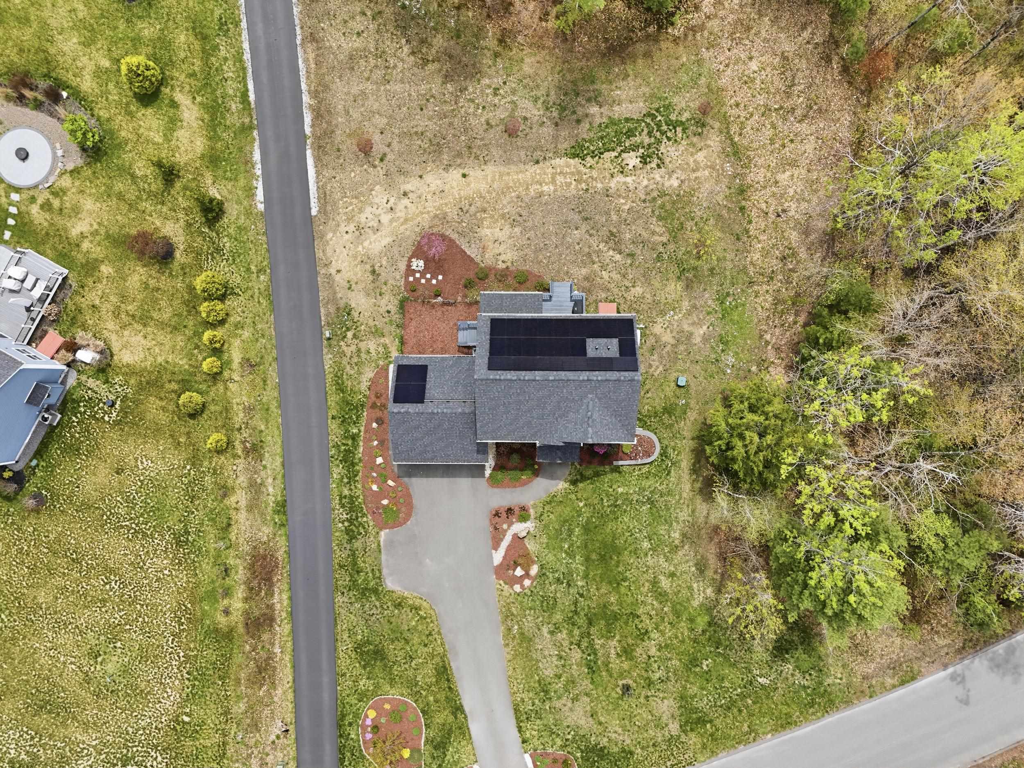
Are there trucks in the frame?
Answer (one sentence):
No, the picture doesn't show any truck.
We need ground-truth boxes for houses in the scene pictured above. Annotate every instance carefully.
[391,290,645,464]
[0,335,65,464]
